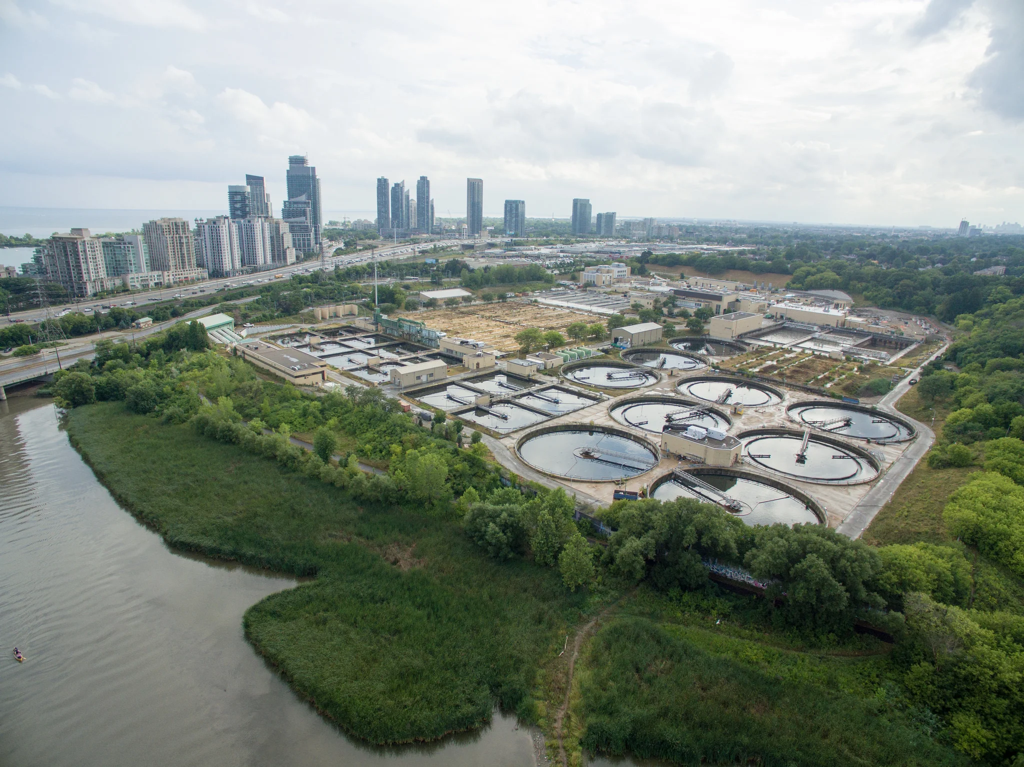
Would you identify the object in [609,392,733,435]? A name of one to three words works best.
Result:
storage tank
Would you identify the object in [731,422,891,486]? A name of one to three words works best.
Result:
storage tank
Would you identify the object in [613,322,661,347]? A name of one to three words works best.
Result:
shed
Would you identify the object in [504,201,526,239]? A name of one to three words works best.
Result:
building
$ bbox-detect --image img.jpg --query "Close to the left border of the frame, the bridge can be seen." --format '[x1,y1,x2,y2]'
[0,336,128,401]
